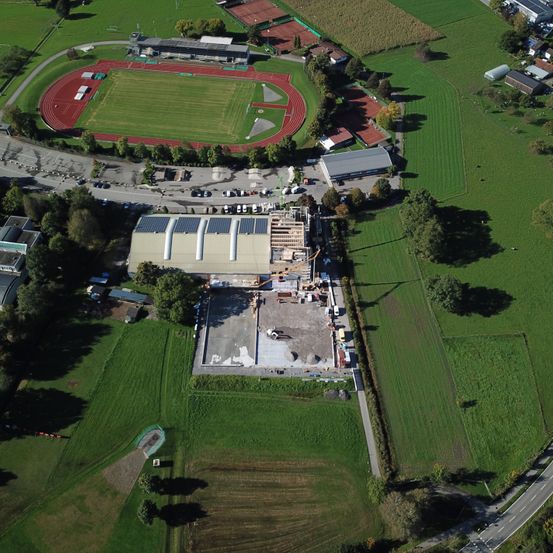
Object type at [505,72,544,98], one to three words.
barn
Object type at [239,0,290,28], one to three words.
tennis court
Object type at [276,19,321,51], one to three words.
tennis court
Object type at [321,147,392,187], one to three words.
building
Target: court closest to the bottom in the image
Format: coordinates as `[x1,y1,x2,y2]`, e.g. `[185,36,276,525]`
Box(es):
[354,121,390,148]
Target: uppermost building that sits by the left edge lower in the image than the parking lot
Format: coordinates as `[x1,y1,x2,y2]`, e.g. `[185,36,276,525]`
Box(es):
[0,215,41,281]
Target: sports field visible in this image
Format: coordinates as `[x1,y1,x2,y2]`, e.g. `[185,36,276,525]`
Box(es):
[73,68,291,144]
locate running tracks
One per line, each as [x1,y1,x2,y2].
[37,58,306,154]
